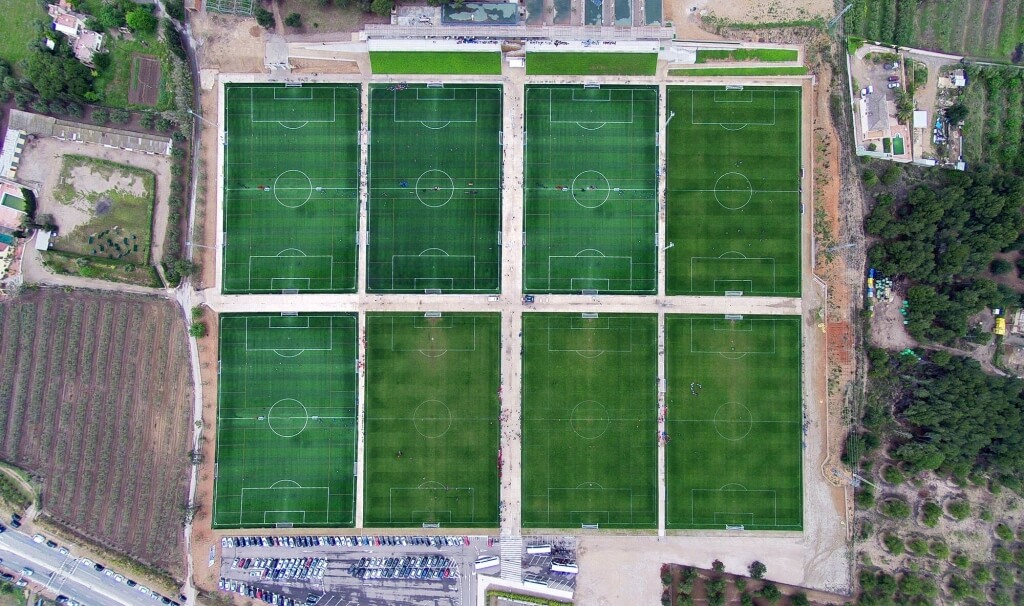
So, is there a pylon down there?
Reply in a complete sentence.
Yes, looking at the shot, I can spot a pylon.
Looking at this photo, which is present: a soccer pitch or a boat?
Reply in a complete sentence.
Looking from above, you can make out a soccer pitch.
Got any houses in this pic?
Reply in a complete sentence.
Yes, the frame does contain a house.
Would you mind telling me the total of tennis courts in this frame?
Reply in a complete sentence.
Not a single tennis court can be seen.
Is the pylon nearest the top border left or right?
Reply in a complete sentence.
You can find the pylon nearest the top border on the right side of the picture.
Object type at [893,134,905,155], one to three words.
swimming pool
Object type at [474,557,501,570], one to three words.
vehicle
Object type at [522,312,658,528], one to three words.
soccer field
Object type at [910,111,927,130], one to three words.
building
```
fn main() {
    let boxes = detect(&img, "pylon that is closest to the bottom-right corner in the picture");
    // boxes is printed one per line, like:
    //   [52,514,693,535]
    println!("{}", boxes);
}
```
[828,465,866,483]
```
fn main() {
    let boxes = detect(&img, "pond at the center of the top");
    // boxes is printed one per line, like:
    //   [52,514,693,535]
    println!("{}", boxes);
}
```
[441,2,519,25]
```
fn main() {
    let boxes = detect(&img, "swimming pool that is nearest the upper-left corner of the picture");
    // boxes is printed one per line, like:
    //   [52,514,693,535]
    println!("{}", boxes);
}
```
[1,194,25,211]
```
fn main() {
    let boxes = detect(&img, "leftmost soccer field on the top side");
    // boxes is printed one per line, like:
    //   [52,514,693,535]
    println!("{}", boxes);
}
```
[222,83,361,293]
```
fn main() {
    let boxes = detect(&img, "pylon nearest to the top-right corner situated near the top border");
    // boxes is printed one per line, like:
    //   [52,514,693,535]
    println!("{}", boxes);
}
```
[824,3,857,31]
